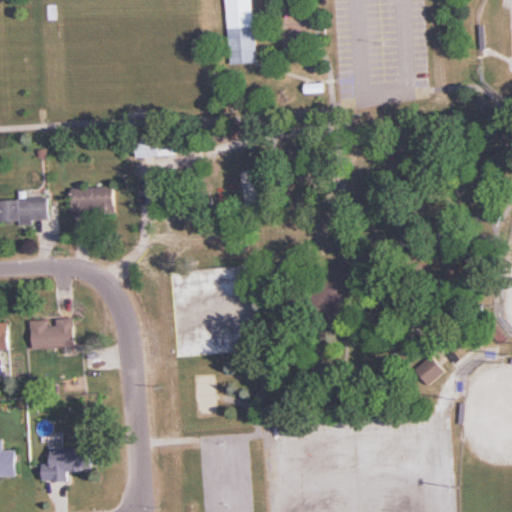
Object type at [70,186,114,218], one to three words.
house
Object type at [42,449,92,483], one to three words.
house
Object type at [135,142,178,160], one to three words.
shed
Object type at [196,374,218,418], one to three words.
sports court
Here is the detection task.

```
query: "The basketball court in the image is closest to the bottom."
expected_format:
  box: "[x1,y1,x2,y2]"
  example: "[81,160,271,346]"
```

[202,436,254,512]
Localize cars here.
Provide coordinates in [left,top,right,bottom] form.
[46,482,50,494]
[36,222,42,232]
[65,299,70,311]
[61,485,66,496]
[416,72,428,78]
[94,362,105,368]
